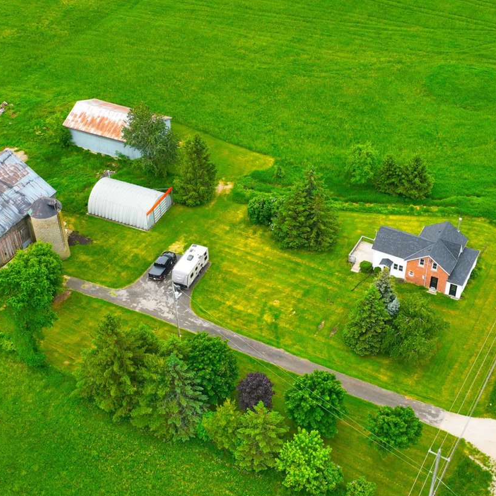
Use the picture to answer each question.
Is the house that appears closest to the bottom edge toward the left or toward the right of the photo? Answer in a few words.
right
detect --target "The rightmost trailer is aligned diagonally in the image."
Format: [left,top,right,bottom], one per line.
[172,243,209,290]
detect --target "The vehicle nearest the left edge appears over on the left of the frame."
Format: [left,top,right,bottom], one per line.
[149,252,179,279]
